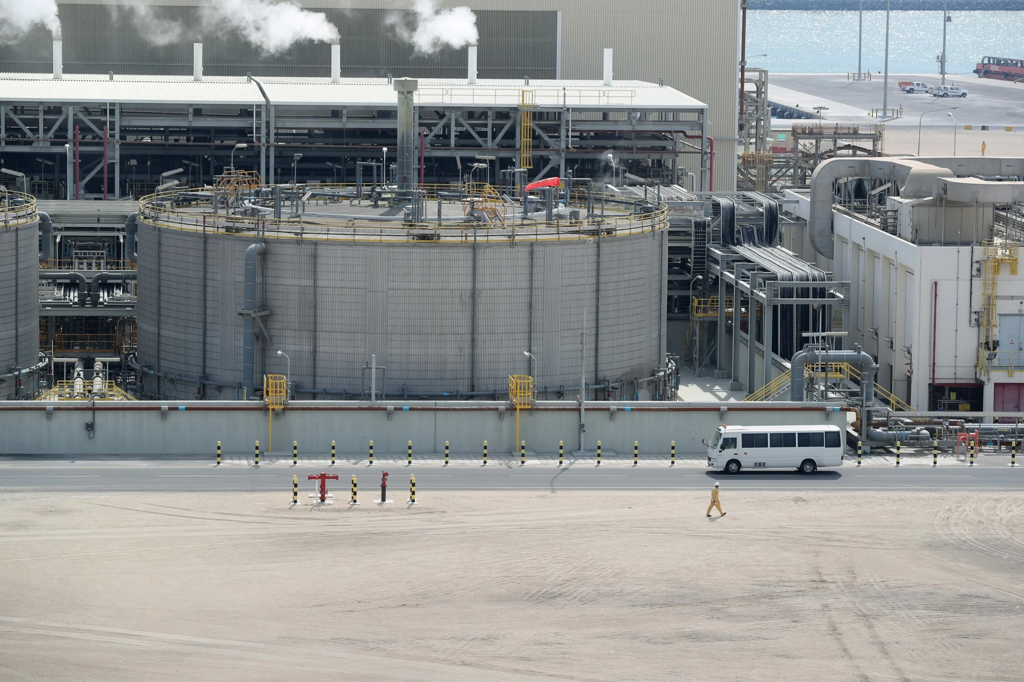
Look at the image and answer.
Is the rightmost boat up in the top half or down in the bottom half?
top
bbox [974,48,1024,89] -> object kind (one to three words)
boat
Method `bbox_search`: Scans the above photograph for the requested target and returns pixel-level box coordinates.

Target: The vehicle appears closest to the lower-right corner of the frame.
[696,424,843,474]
